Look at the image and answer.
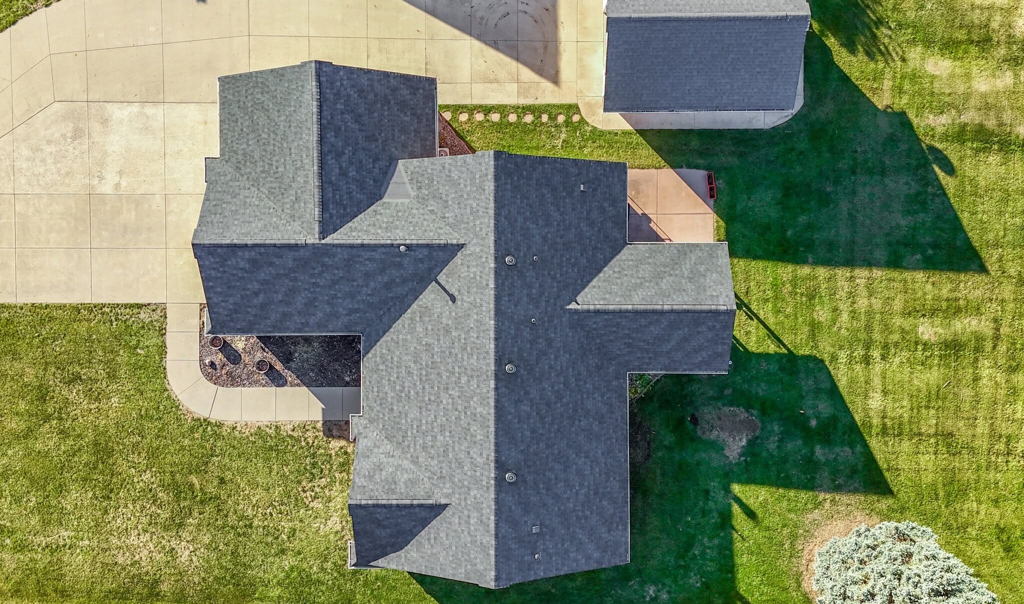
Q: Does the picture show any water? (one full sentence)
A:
No, the picture contains no water.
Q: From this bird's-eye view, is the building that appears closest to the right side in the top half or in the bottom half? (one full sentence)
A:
It is in the top half that the building that appears closest to the right side appears.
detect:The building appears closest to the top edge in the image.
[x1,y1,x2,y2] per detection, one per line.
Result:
[603,0,811,113]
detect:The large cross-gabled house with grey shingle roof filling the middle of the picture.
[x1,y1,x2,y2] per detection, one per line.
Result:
[191,61,739,589]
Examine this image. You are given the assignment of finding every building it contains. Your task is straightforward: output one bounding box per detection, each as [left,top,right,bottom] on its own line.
[191,61,739,589]
[603,0,811,113]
